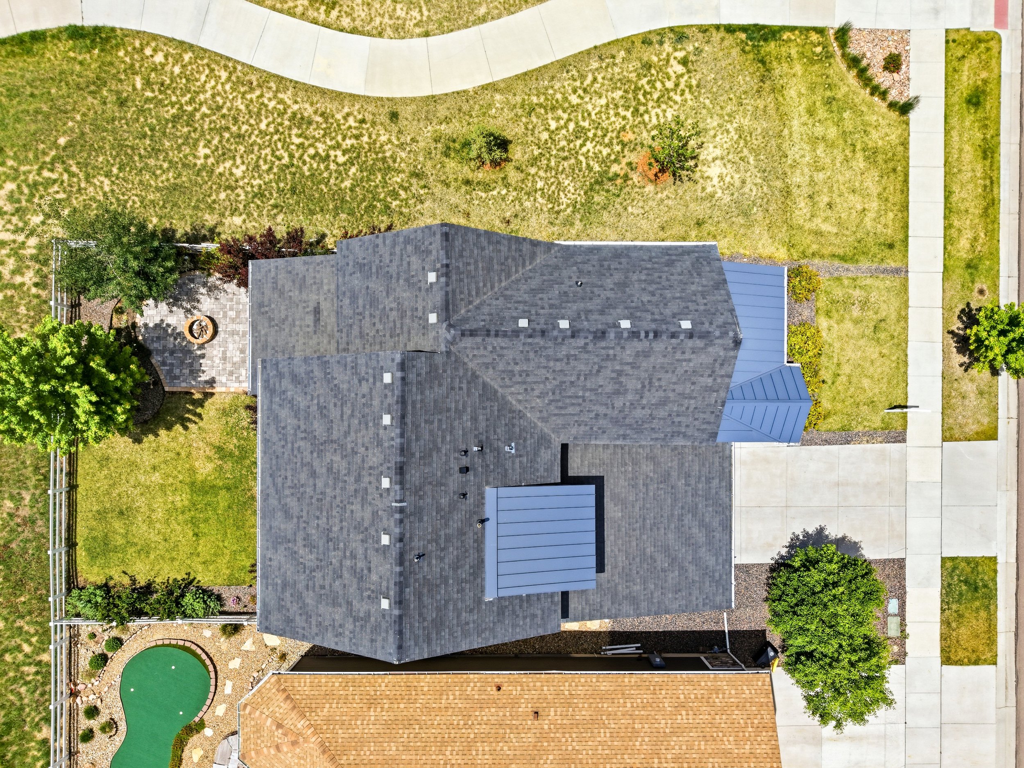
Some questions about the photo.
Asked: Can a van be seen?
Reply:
No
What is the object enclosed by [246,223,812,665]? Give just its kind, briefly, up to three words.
house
